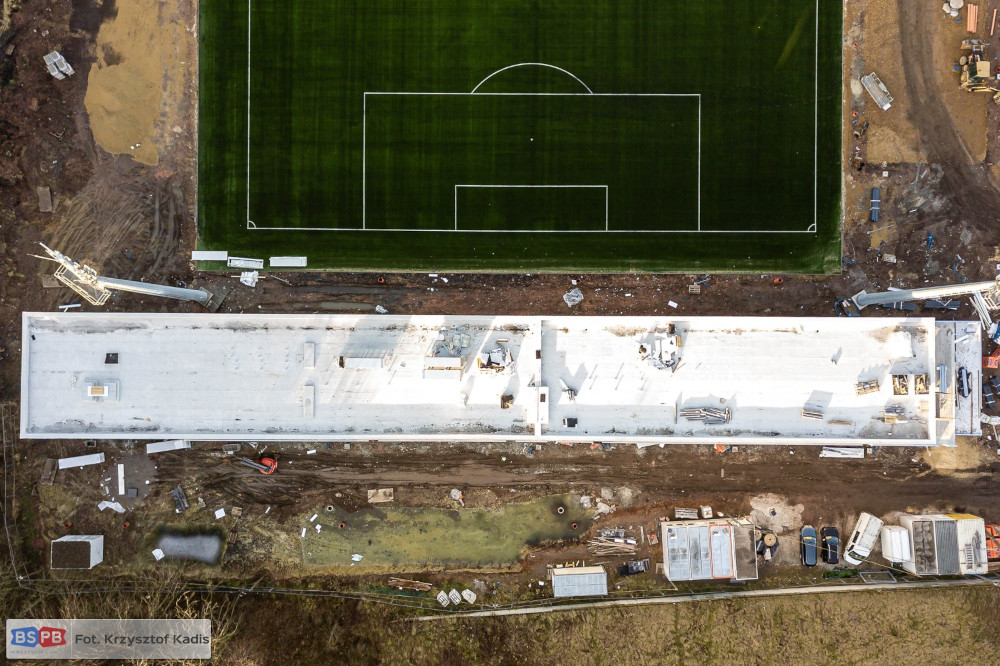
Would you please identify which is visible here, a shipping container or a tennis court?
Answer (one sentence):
The one in the frame is a shipping container.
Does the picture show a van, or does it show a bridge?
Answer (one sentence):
Looking from above, you can make out a van.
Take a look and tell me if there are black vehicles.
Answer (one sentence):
Yes, a black vehicle is visible in the scene.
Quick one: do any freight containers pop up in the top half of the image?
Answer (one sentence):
No, no freight container can be made out in the top half of the image.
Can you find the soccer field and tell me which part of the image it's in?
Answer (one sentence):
Look in the top portion of the view to spot the soccer field.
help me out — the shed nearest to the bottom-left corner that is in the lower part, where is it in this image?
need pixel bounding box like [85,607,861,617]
[52,534,104,570]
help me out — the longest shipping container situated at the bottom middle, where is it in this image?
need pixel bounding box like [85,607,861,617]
[552,565,607,597]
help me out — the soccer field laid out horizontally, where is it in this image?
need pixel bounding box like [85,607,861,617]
[195,0,844,274]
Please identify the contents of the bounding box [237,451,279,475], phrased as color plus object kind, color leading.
red work vehicle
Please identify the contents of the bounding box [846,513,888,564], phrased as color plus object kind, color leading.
white van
